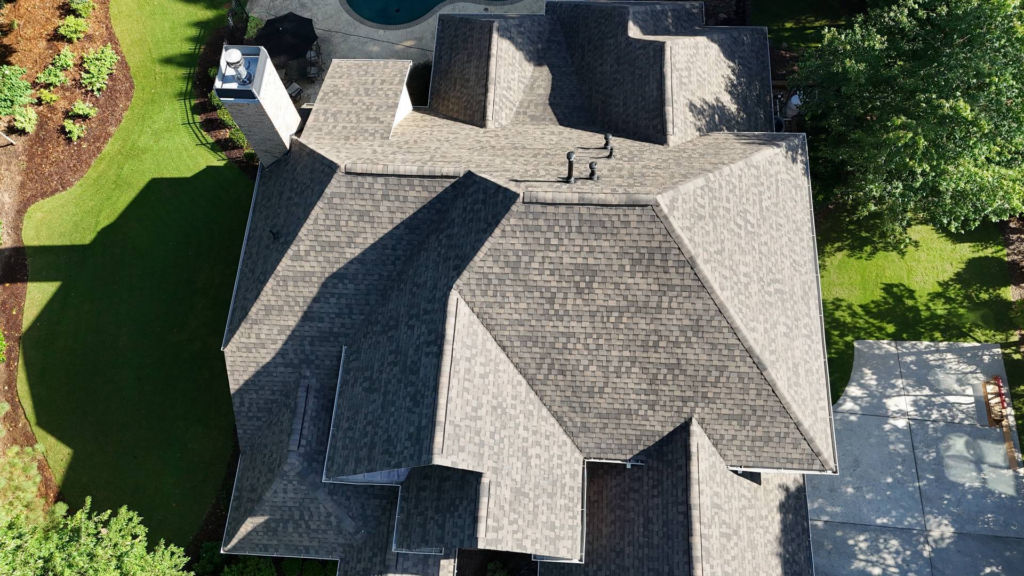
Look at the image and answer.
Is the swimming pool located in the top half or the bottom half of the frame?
top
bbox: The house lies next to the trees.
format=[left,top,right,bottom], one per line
[210,0,841,576]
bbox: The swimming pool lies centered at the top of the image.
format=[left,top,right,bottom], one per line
[340,0,523,30]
